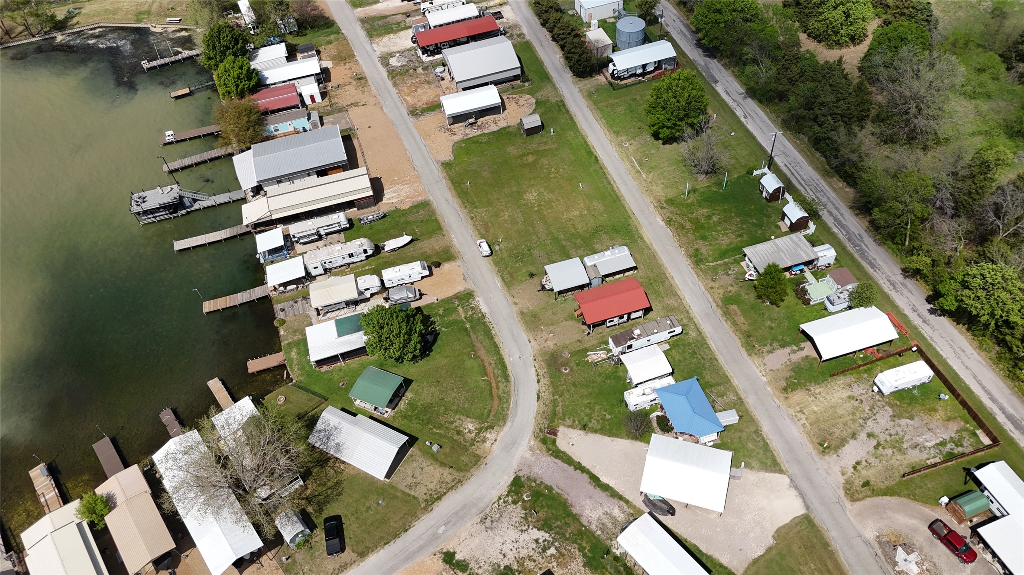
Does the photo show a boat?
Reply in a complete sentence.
Yes, looking at the shot, I can spot a boat.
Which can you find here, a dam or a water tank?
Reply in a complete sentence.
There is a water tank in the scene.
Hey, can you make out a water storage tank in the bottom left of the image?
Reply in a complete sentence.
No, no water storage tank is visible in the bottom left of the image.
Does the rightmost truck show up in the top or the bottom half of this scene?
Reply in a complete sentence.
The rightmost truck is in the bottom half of the image.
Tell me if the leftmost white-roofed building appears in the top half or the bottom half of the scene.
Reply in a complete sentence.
The bottom half of the photo is where the leftmost white-roofed building is.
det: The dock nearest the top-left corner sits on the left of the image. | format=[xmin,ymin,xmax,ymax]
[143,48,200,71]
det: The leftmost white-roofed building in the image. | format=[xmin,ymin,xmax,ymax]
[22,503,103,575]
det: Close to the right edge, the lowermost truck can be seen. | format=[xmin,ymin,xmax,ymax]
[926,518,978,568]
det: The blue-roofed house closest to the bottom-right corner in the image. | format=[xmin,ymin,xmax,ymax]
[656,376,724,446]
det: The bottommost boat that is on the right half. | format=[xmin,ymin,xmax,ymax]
[643,495,677,519]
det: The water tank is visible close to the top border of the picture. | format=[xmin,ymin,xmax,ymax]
[612,11,645,49]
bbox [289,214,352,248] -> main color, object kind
white camper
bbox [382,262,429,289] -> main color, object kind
white vehicle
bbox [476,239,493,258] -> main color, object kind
white car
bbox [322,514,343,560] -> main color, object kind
black truck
